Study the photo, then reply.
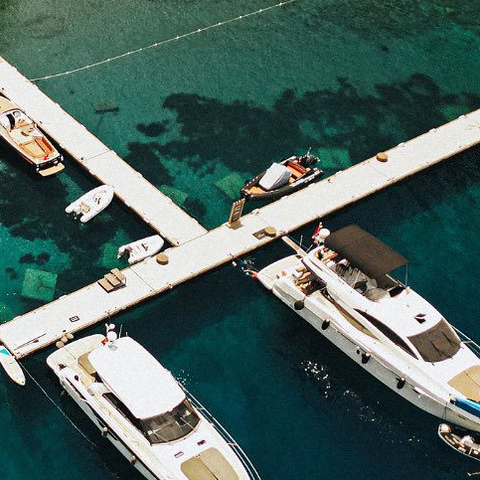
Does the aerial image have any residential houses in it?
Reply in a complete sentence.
No, I find no residential house anywhere in the image.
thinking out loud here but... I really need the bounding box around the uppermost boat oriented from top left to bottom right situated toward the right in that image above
[264,222,480,433]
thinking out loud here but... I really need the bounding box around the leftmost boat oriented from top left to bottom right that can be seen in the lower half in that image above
[52,319,254,480]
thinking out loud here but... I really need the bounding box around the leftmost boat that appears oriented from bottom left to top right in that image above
[64,184,116,223]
